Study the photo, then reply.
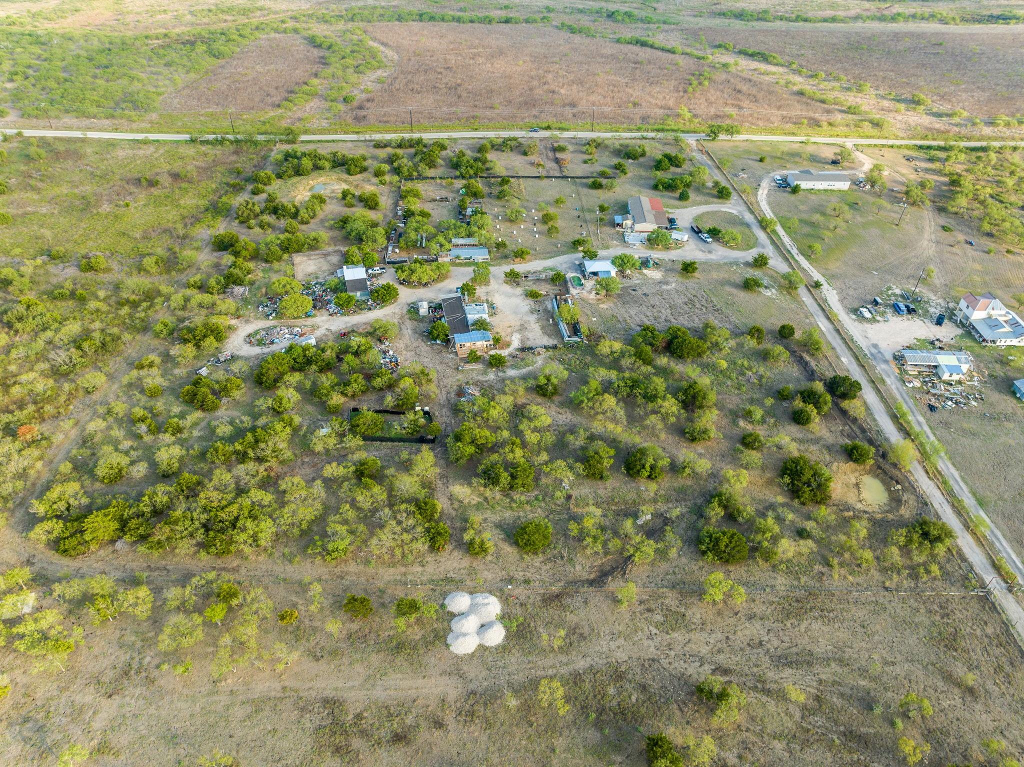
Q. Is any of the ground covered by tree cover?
Yes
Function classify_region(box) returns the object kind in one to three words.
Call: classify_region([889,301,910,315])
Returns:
vehicle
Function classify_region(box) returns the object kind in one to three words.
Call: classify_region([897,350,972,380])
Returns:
shed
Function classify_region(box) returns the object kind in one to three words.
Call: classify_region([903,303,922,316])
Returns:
vehicle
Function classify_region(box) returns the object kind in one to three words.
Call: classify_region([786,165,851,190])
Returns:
house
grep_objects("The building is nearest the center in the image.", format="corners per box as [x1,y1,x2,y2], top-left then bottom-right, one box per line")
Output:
[448,334,491,364]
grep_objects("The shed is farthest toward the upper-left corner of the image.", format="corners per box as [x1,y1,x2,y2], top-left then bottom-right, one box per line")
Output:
[337,263,368,302]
